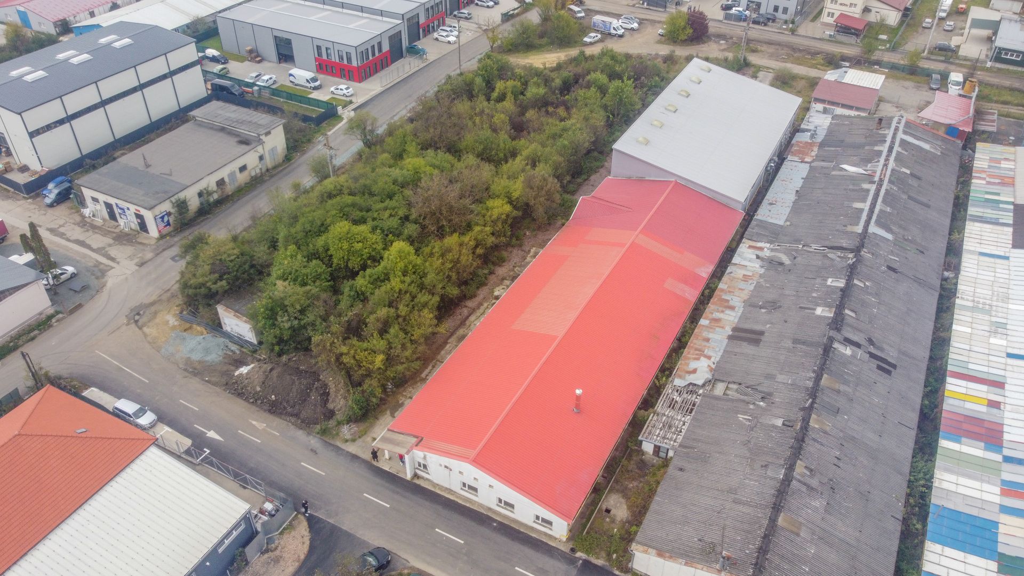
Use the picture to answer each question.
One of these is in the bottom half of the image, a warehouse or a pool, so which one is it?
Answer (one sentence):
Visible in the bottom half of the image is a warehouse.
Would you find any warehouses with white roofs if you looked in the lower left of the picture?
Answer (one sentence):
Yes, I can see a warehouse with a white roof in the lower left of the picture.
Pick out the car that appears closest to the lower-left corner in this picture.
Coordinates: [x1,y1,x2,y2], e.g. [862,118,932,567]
[107,398,154,430]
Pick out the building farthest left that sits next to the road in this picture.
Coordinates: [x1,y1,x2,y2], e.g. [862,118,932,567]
[0,252,54,338]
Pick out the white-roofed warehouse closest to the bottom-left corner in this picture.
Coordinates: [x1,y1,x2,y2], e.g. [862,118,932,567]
[0,447,255,576]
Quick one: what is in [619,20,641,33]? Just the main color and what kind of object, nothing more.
white vehicle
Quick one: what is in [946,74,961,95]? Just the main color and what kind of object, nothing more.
white vehicle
